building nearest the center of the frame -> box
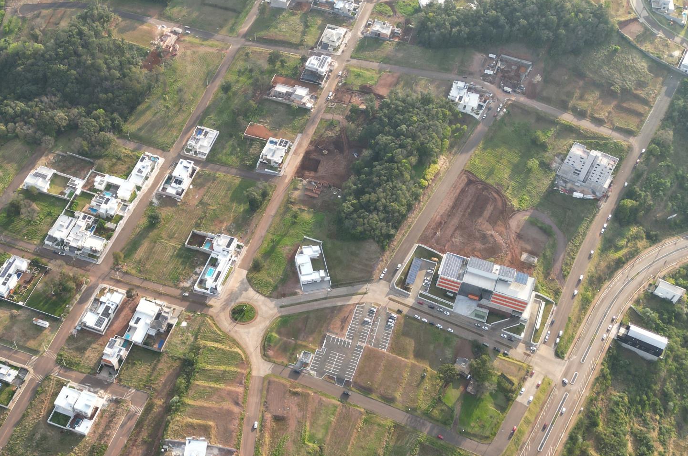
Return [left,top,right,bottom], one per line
[296,245,325,290]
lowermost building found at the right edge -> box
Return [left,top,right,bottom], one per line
[609,324,666,365]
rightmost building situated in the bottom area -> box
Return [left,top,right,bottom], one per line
[650,279,683,308]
